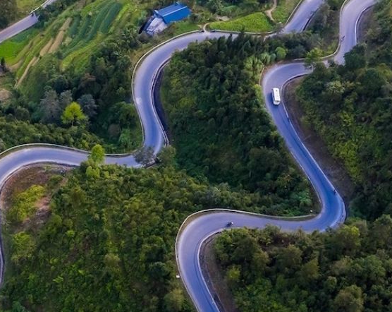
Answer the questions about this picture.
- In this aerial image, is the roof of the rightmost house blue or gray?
blue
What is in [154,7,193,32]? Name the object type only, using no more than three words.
house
